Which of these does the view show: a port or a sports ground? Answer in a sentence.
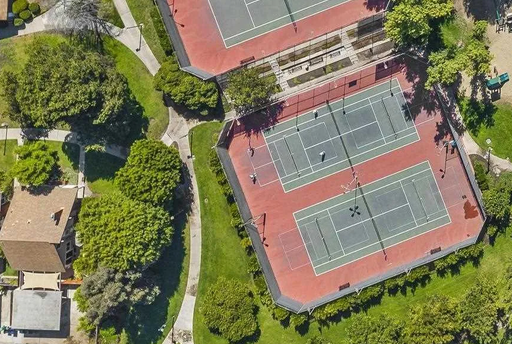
The picture captures a sports ground.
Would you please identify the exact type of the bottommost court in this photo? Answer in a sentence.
I'd say the bottommost court is a tennis court.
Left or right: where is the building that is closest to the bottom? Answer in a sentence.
It is on the left.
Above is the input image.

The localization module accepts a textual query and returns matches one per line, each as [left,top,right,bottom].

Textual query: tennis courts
[228,57,454,217]
[252,139,483,307]
[166,0,388,75]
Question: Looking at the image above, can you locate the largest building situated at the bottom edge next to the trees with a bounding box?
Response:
[12,287,71,331]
